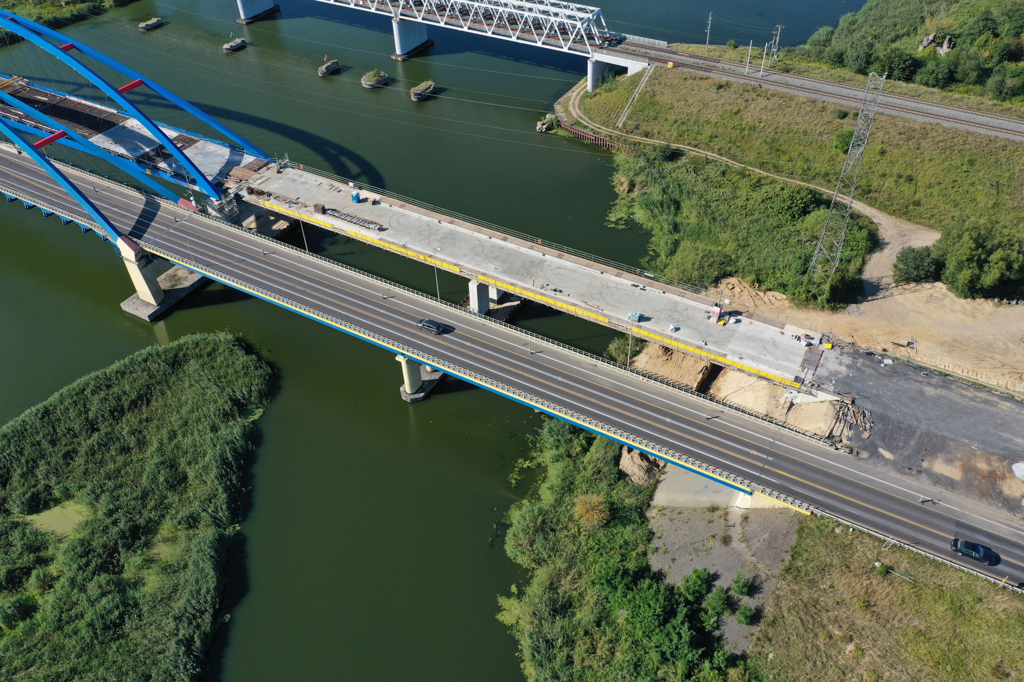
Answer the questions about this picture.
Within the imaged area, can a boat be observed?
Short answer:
No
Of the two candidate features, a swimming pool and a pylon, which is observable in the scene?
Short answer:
pylon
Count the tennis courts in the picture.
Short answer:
0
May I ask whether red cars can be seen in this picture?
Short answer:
No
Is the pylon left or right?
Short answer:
right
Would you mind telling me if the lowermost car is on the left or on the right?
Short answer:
right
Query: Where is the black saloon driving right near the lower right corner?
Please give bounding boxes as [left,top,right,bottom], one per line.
[952,537,997,566]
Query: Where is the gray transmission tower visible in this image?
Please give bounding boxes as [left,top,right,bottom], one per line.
[809,70,888,295]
